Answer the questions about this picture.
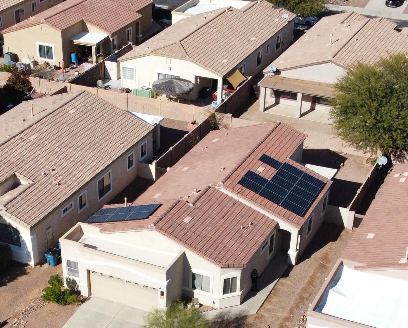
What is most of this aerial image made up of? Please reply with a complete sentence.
The bulk of the photo consists of buildings.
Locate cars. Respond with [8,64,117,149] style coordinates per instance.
[385,0,406,8]
[291,9,320,26]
